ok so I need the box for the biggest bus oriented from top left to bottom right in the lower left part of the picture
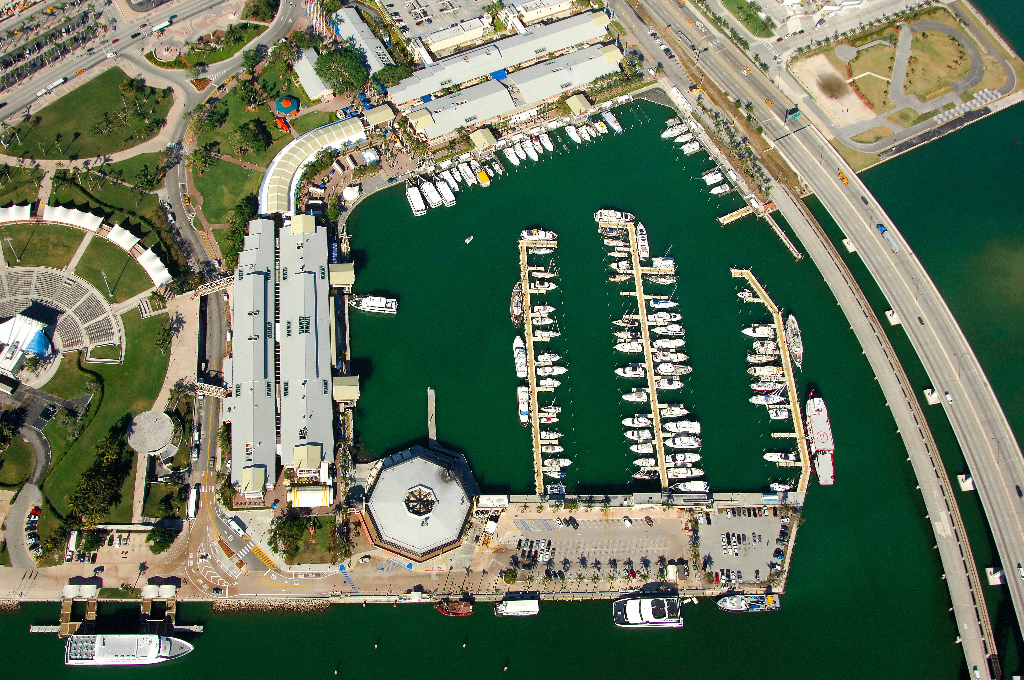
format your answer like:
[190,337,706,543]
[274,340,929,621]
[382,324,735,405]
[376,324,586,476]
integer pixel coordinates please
[225,516,248,539]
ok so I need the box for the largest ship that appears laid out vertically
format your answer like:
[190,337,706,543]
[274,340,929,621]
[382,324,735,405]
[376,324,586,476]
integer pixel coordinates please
[806,388,838,484]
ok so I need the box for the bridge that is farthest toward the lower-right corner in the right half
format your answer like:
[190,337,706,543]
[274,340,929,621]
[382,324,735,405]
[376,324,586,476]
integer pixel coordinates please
[757,80,1024,680]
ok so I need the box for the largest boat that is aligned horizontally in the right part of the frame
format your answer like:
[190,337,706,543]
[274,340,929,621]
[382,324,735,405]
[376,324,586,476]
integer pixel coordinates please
[614,597,685,626]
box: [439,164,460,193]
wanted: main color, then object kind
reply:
white boat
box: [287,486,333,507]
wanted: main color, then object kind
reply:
white tent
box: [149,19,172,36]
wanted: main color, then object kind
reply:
white vehicle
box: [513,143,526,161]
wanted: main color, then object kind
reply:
white boat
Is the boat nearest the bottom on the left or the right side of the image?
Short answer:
left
